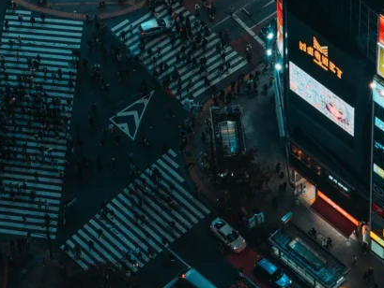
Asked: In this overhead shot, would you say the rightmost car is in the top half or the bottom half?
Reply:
bottom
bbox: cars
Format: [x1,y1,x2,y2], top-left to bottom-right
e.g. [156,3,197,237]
[135,14,171,36]
[256,256,290,288]
[212,218,244,250]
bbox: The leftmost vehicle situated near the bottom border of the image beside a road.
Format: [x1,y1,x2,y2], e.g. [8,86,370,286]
[183,272,211,288]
